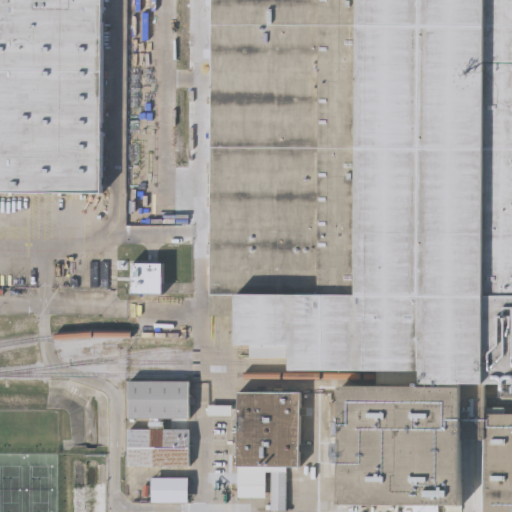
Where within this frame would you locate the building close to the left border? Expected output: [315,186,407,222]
[0,0,105,192]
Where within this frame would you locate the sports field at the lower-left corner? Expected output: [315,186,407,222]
[0,410,59,453]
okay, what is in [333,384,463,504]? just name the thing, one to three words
building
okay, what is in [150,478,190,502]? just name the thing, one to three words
shed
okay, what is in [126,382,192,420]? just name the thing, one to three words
building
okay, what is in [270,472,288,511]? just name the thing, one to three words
shed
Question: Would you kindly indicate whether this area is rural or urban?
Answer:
urban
